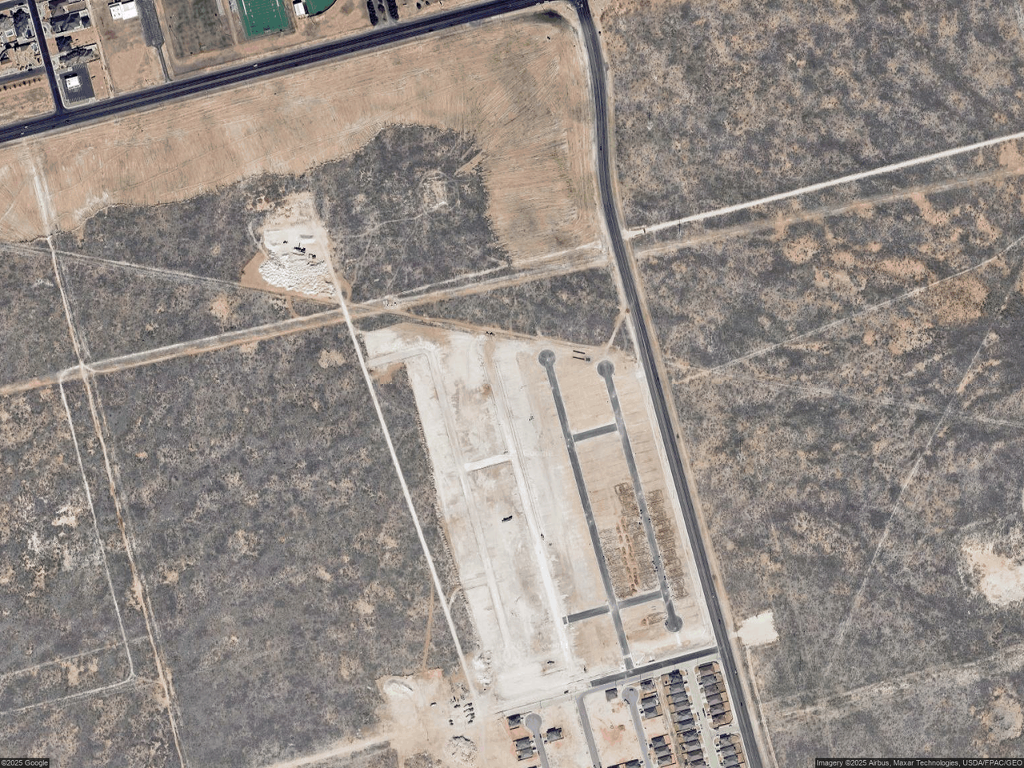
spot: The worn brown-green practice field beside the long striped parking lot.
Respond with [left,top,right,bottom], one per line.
[172,0,230,58]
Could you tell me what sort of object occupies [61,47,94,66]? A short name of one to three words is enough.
house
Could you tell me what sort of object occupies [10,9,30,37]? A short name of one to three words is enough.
house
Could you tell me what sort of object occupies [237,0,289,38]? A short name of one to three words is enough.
sports field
